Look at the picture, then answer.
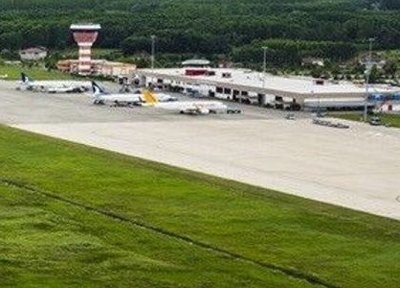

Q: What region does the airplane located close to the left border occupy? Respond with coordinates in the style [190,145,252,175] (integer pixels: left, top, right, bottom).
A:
[16,64,90,90]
